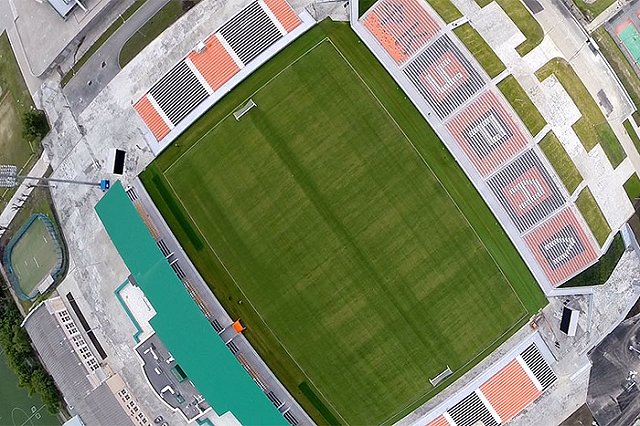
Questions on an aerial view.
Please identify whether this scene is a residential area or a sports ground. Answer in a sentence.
This image shows a sports ground.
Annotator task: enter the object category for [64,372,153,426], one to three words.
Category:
building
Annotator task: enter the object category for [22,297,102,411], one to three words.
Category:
building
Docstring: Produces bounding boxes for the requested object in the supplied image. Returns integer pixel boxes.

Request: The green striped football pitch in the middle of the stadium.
[139,17,549,426]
